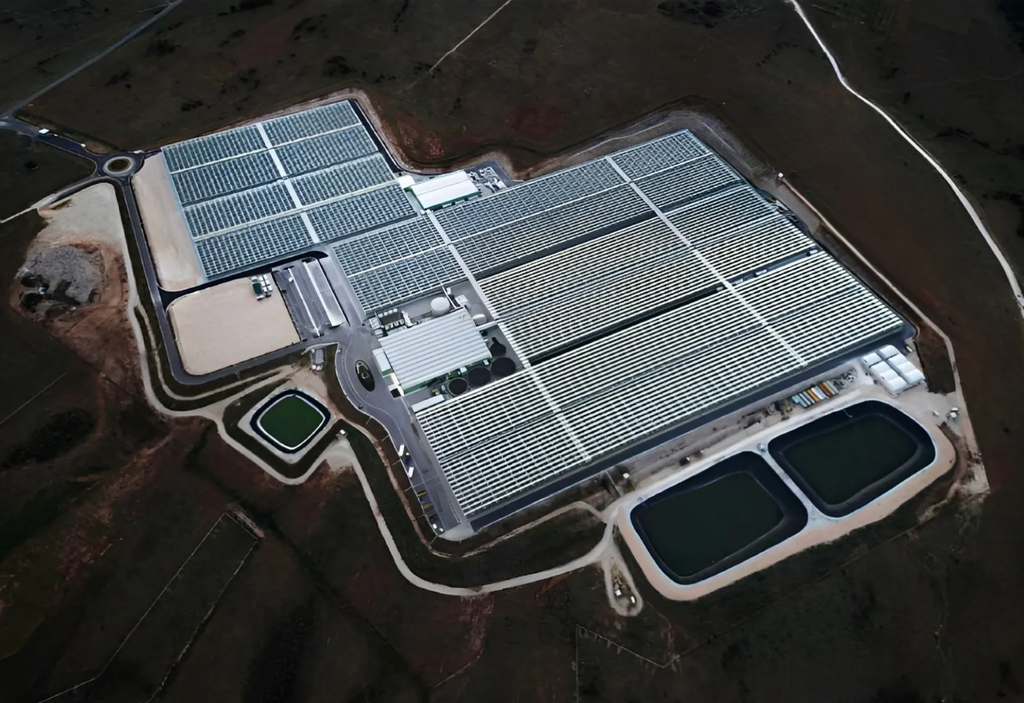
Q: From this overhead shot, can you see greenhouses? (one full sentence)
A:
Yes, I can see a greenhouse in this picture.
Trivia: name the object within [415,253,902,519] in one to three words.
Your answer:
greenhouse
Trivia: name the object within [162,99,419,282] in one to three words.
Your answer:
greenhouse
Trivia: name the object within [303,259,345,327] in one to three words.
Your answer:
shed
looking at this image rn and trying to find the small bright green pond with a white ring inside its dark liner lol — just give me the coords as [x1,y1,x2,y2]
[251,390,330,452]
